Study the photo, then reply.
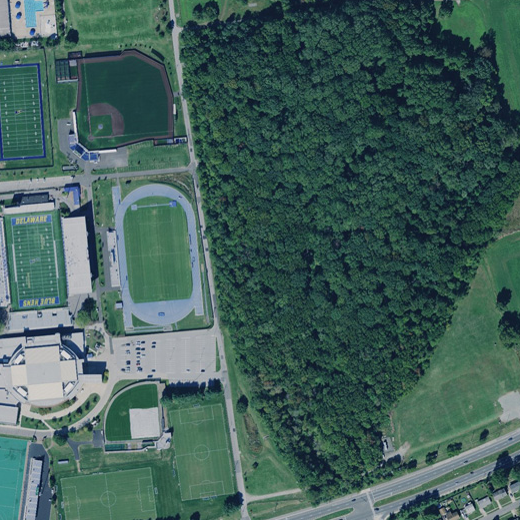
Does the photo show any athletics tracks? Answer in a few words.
Yes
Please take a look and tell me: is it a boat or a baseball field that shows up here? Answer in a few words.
baseball field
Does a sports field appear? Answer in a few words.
Yes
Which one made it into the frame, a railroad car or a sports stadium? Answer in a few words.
sports stadium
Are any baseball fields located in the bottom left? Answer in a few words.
Yes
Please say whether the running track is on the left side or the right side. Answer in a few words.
left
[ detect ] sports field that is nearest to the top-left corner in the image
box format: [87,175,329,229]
[0,63,46,159]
